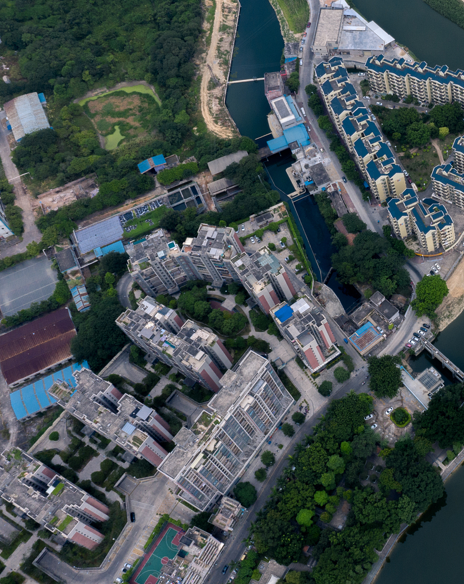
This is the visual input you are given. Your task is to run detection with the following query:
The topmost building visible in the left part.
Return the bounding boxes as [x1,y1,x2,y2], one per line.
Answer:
[3,92,49,130]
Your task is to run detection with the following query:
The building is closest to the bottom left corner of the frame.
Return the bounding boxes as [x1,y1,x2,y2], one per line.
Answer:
[0,444,119,553]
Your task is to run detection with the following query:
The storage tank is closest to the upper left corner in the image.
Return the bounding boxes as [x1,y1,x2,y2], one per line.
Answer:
[167,182,206,212]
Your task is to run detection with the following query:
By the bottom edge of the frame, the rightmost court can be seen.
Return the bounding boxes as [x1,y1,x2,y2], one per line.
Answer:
[132,523,184,584]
